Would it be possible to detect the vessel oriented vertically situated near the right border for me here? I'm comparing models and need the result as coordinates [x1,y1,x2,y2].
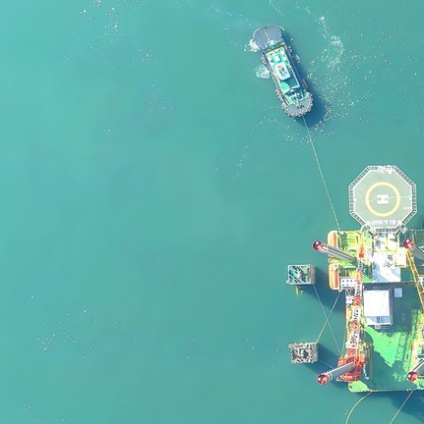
[315,163,424,394]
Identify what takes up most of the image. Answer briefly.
water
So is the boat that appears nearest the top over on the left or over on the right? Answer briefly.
right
